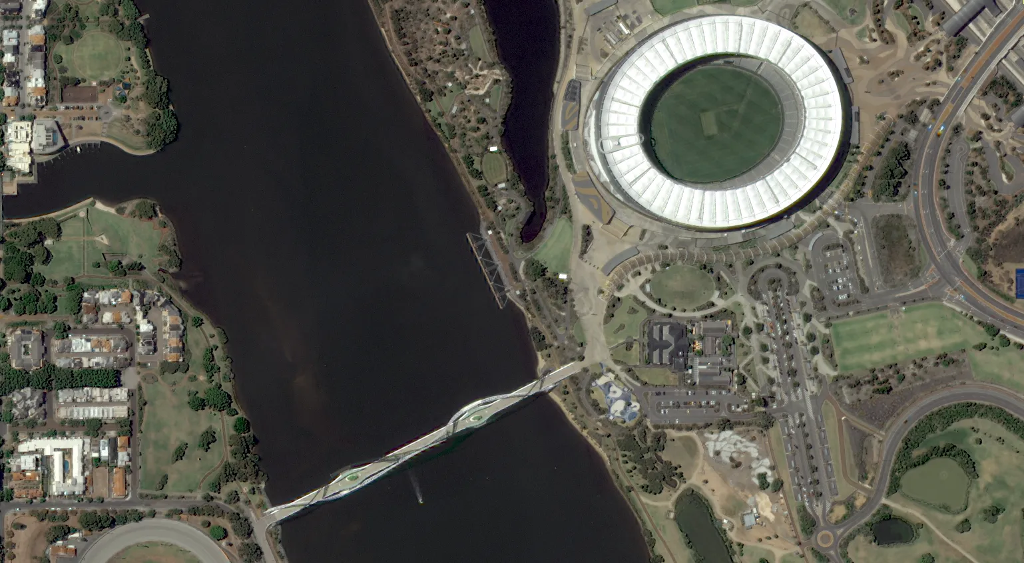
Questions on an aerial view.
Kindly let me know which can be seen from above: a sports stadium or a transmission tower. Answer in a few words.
sports stadium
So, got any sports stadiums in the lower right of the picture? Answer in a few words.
No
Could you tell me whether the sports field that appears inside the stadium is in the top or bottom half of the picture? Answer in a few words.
top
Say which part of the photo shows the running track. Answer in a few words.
bottom left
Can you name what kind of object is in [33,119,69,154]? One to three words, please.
building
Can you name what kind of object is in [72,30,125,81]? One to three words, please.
sports field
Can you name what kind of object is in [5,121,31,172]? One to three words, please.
building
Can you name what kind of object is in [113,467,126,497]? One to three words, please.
house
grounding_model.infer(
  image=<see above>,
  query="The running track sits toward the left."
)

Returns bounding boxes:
[76,514,233,563]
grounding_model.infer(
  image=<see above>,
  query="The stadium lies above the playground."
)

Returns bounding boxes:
[595,15,842,228]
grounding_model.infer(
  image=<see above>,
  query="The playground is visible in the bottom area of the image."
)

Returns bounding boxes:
[595,363,641,422]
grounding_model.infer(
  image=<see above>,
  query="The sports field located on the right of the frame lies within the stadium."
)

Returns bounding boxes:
[652,66,781,182]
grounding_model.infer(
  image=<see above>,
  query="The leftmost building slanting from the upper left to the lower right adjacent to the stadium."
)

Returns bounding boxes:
[572,170,615,224]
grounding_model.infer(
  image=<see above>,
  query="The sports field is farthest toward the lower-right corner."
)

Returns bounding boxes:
[651,264,715,312]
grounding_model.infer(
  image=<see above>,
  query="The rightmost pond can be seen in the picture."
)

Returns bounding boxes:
[901,458,971,513]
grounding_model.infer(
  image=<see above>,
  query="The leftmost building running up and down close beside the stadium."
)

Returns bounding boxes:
[561,79,581,130]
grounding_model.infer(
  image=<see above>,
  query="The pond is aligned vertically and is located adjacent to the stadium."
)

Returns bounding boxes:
[485,0,560,243]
